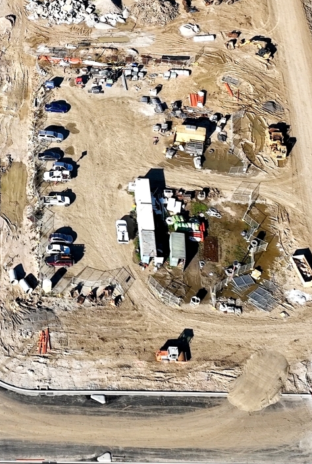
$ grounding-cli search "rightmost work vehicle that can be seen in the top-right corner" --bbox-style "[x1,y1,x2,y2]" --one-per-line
[231,36,281,62]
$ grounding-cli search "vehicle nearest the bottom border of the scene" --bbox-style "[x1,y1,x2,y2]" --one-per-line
[155,343,194,364]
